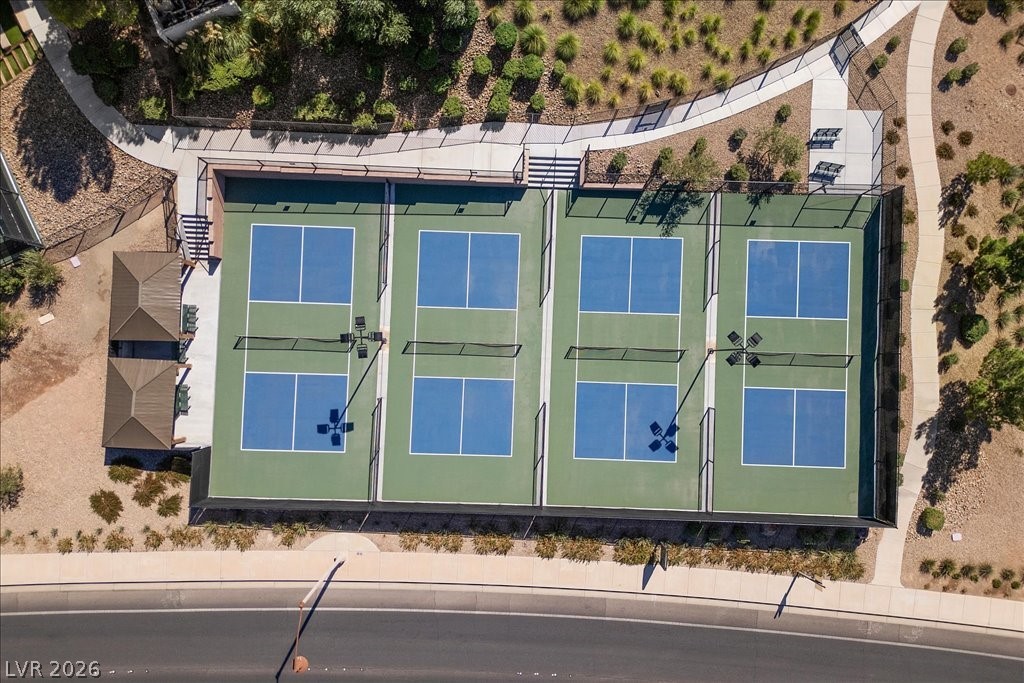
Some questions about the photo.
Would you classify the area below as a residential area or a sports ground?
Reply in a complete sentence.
The area seen from above is a sports ground.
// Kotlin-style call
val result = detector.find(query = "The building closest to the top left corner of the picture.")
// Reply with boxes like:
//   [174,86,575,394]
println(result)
[106,251,197,341]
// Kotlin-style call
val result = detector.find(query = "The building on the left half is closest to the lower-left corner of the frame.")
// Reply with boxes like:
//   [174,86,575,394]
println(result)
[101,357,193,450]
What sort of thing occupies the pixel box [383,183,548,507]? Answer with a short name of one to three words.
sports court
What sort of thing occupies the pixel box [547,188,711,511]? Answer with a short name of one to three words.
sports court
